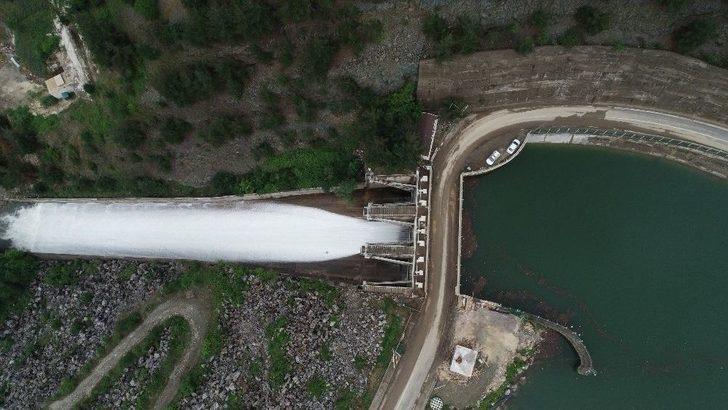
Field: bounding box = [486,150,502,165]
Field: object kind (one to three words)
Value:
car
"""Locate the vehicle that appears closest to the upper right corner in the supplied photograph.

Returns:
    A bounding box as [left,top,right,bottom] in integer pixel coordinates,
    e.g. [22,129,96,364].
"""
[506,139,523,154]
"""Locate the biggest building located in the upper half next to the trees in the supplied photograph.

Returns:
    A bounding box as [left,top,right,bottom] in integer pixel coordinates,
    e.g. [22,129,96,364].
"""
[45,73,77,100]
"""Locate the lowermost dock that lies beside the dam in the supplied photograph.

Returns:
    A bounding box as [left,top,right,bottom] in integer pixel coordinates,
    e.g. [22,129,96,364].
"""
[463,297,594,375]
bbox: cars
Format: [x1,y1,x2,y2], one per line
[486,150,502,165]
[506,139,523,154]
